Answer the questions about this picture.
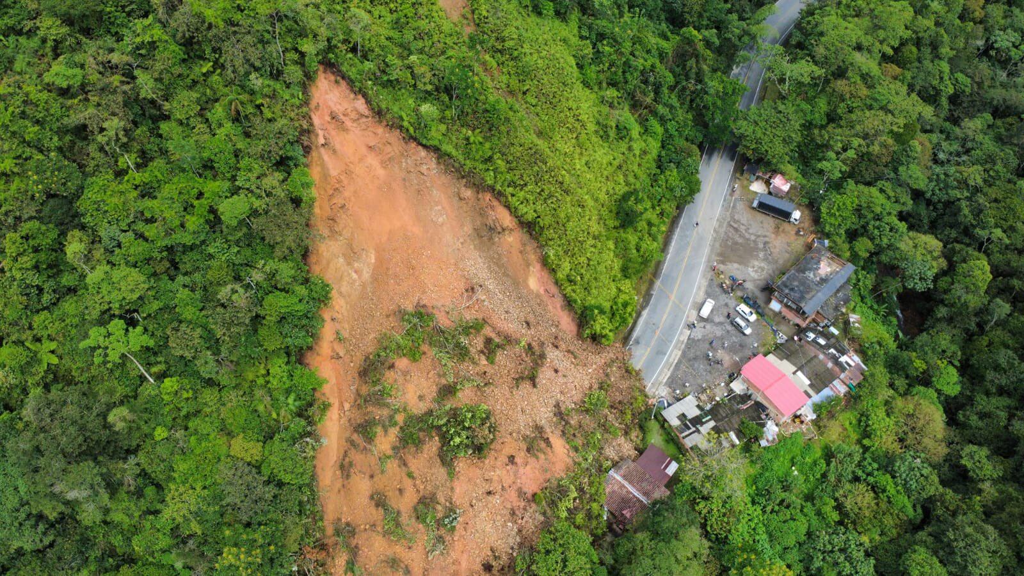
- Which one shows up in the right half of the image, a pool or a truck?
truck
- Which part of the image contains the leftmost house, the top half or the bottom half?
bottom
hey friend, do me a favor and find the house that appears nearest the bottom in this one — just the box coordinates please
[604,444,678,526]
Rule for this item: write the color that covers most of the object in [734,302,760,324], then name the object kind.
white car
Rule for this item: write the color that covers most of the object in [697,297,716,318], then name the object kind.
white vehicle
